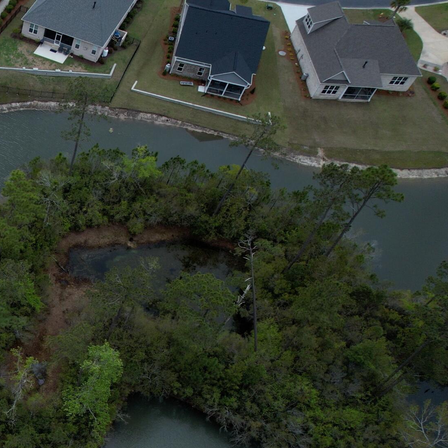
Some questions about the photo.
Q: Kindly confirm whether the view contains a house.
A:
Yes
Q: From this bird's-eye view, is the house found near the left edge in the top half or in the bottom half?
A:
top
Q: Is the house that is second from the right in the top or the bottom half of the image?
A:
top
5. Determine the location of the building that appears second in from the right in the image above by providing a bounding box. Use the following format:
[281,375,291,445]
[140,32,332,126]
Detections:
[170,0,276,101]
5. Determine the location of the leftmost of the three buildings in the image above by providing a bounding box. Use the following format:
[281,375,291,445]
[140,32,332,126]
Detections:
[20,0,143,63]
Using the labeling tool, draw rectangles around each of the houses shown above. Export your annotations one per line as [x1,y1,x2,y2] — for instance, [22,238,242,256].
[20,0,143,63]
[170,0,276,101]
[291,0,423,102]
